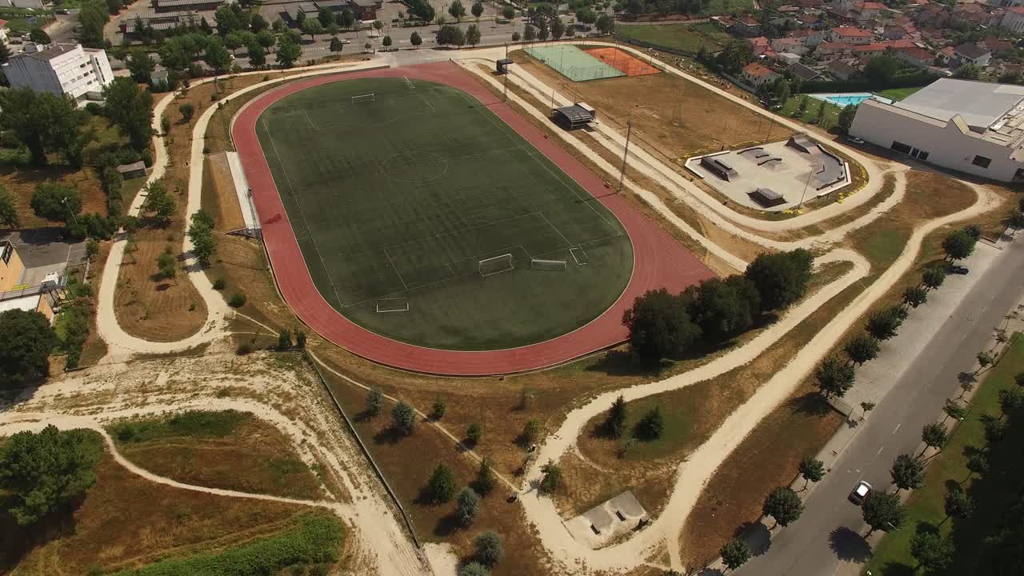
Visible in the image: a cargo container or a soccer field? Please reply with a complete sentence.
The image shows a soccer field.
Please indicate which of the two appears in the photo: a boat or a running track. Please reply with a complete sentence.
This aerial view contains a running track.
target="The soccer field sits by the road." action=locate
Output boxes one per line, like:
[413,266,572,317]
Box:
[256,76,632,350]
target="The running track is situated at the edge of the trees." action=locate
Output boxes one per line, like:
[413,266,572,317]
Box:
[231,61,723,378]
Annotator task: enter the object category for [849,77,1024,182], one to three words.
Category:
building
